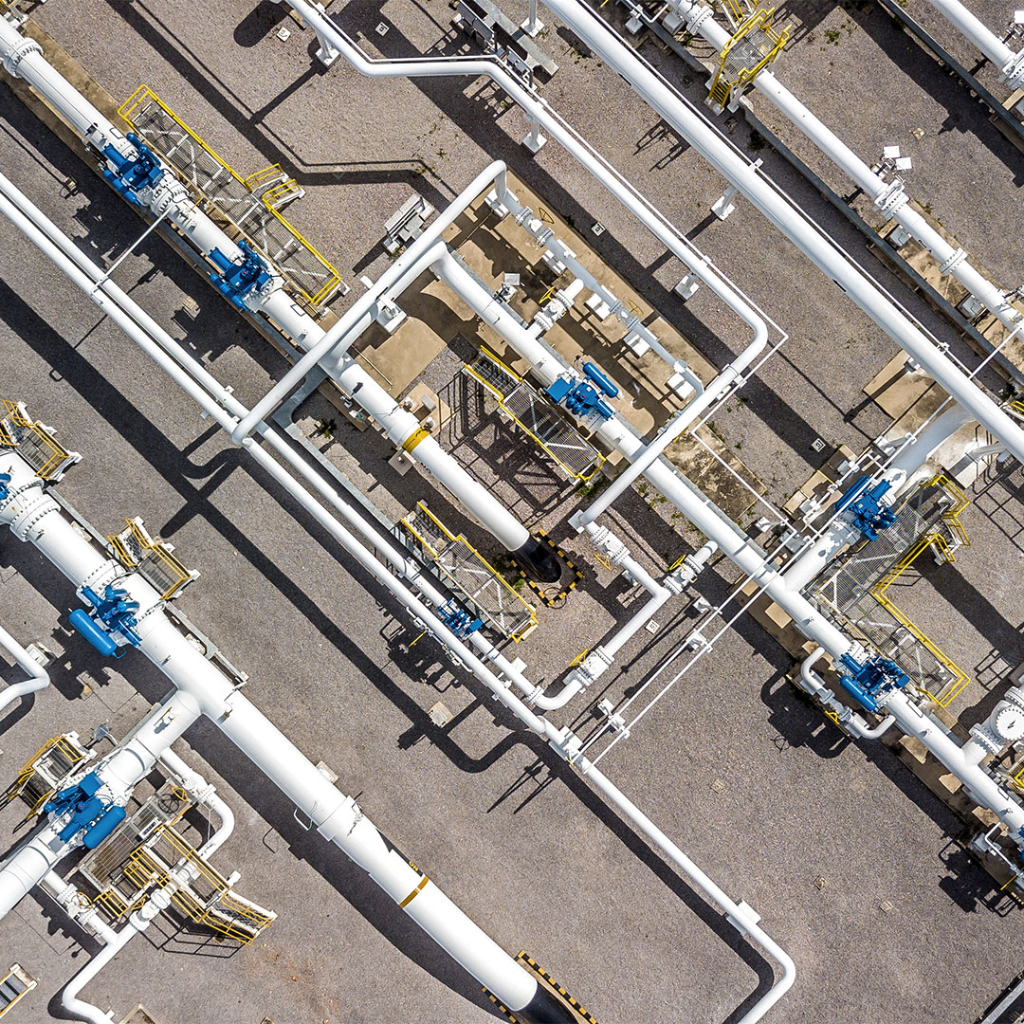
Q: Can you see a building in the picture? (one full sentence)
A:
No, I can see no building in this picture.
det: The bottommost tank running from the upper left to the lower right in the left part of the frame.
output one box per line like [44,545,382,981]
[74,609,131,655]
